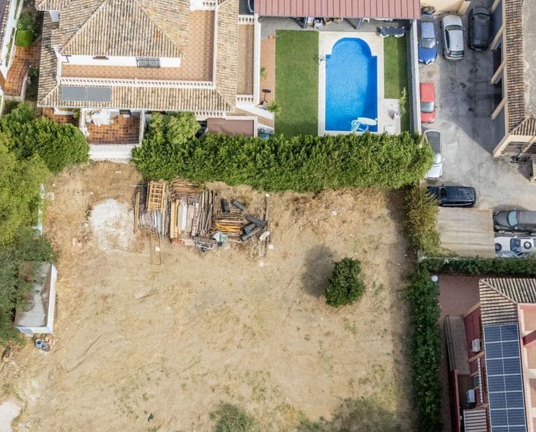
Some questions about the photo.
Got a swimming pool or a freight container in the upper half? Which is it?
swimming pool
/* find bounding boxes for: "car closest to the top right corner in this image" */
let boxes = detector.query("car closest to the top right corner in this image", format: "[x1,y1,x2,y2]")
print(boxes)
[465,7,494,55]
